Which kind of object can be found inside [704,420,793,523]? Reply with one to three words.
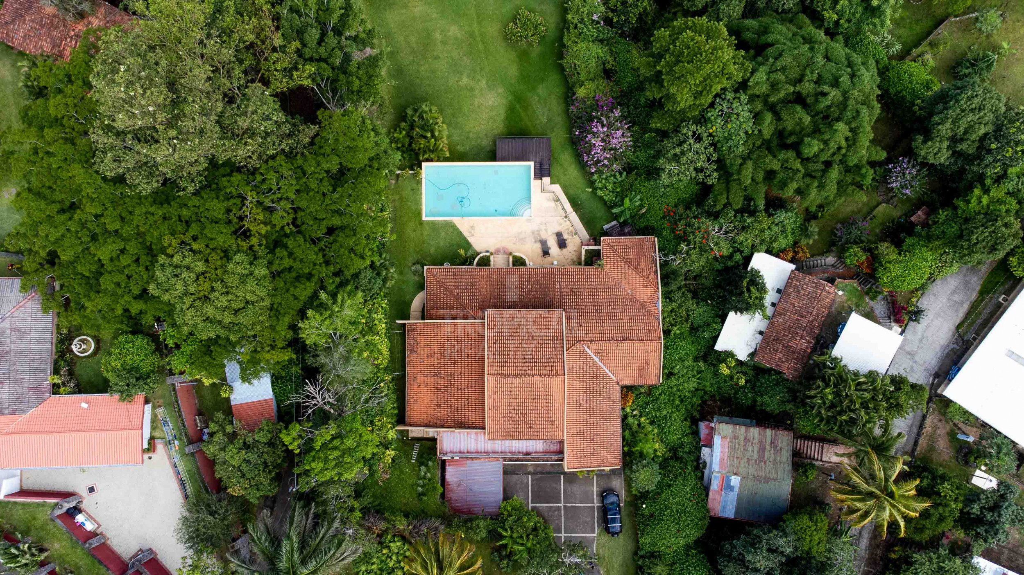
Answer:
shed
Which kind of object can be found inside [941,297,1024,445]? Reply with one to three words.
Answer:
building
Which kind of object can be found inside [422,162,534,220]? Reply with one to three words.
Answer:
swimming pool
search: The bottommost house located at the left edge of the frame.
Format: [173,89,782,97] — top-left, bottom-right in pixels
[0,392,149,470]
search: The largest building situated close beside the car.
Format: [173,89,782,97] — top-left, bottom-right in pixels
[395,237,664,474]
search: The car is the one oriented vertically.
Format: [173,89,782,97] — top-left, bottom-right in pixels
[599,488,623,537]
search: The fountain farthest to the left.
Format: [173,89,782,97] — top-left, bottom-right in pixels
[70,334,98,357]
